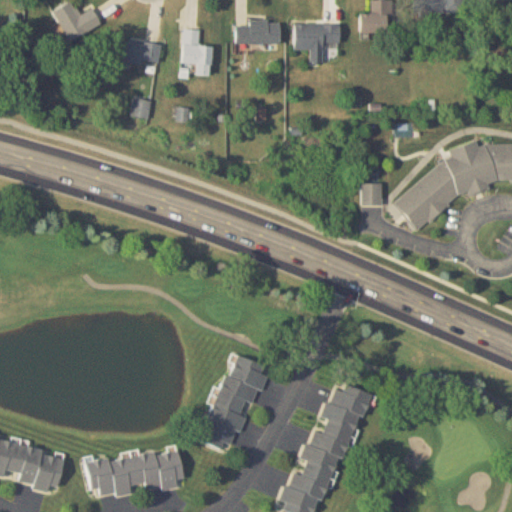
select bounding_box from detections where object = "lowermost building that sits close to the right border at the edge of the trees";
[389,137,512,231]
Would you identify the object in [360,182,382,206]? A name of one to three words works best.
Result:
building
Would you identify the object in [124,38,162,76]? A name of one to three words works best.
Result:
house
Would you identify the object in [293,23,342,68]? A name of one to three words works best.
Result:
house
